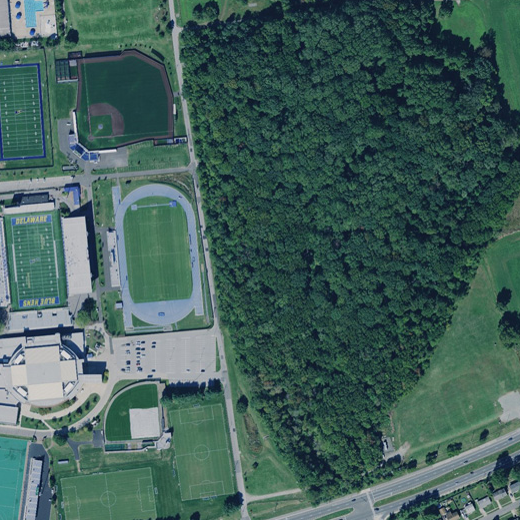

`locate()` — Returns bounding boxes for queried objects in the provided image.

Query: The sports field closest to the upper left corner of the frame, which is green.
[0,63,46,159]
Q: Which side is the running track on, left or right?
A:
left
